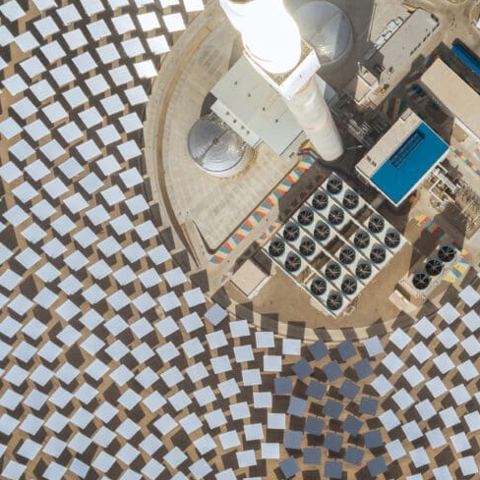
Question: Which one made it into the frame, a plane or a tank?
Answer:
tank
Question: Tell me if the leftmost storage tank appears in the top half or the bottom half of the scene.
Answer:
top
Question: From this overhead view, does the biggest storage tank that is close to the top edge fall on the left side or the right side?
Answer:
right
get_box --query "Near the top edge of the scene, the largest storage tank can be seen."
[297,1,359,71]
